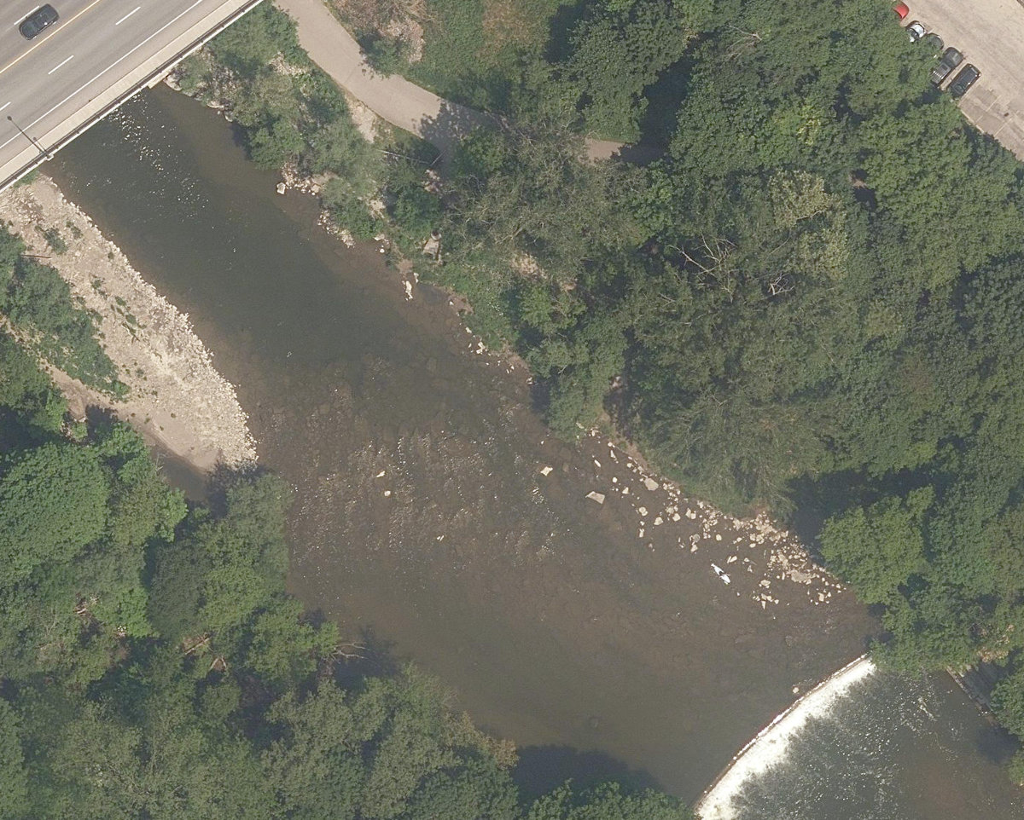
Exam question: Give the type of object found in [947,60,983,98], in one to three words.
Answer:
car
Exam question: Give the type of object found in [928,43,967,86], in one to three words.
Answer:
truck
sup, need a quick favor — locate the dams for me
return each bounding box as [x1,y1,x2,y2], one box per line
[690,647,889,820]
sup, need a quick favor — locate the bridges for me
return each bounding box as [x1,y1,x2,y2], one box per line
[0,0,269,194]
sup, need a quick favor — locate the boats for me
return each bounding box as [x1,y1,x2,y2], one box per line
[711,564,731,585]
